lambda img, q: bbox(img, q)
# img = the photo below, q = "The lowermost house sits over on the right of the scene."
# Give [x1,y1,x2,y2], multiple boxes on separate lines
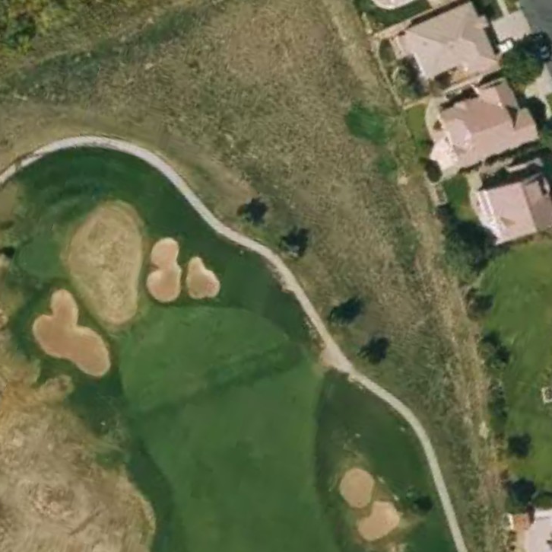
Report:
[475,175,552,243]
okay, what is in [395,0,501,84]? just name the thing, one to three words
house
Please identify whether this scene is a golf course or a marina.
golf course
